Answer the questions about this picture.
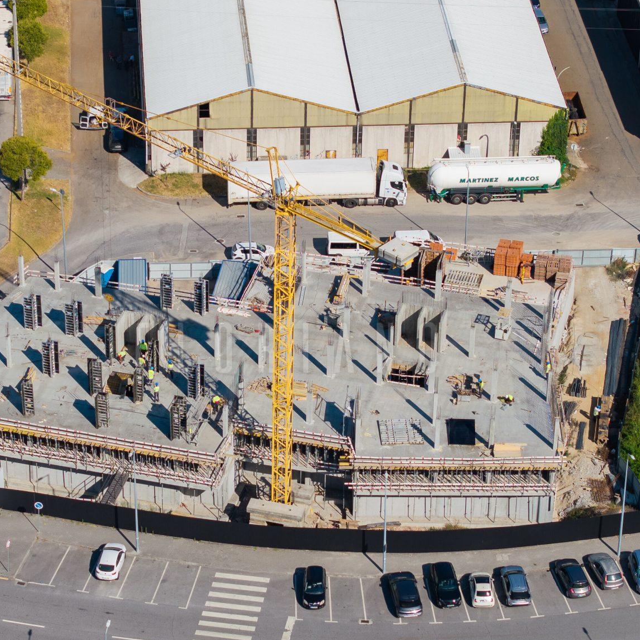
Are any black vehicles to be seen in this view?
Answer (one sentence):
Yes, this view includes a black vehicle.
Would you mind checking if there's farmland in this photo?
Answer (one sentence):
No, no farmland is visible.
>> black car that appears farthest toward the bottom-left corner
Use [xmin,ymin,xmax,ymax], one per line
[301,565,328,607]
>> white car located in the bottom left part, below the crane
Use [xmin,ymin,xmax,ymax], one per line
[96,544,127,583]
